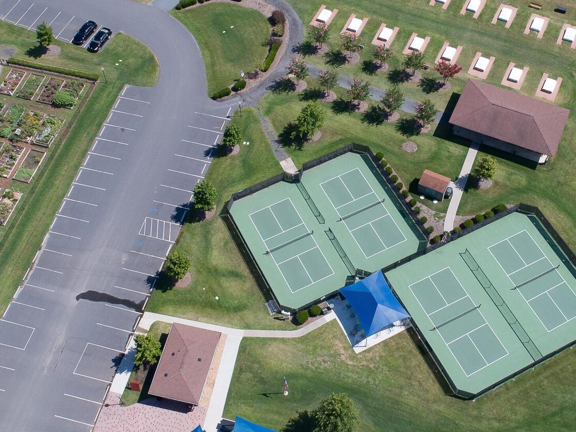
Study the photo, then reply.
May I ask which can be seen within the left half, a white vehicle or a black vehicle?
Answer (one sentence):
There is a black vehicle within the left half.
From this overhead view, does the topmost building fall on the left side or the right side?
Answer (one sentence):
The topmost building is on the right side of the image.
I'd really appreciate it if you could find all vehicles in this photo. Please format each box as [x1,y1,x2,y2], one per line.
[73,20,97,44]
[87,27,111,51]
